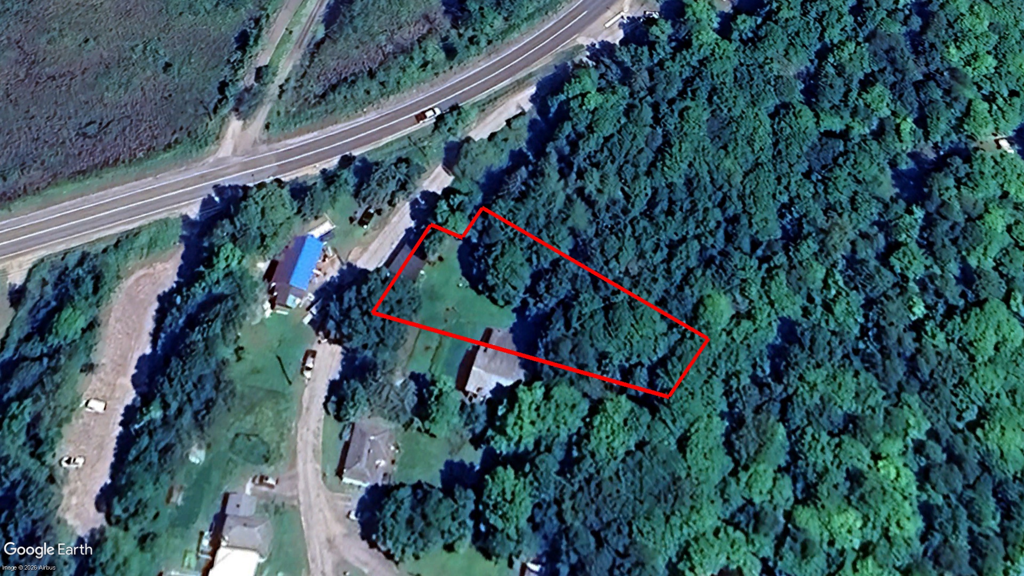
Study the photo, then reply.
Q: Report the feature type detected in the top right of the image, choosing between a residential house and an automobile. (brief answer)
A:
automobile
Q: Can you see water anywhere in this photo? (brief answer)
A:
No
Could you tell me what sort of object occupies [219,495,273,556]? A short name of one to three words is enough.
house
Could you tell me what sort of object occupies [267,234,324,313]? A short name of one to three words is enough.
house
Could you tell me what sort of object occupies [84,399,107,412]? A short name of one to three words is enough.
vehicle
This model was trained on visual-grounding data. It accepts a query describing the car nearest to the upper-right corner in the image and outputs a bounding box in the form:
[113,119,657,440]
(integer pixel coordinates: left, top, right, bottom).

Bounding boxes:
[997,135,1014,155]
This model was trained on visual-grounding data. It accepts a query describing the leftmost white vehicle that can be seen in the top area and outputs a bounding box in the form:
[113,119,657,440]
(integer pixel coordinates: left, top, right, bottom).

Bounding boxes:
[415,107,442,125]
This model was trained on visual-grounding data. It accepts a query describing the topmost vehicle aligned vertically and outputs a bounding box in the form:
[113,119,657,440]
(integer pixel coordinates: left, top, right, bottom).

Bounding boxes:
[303,351,316,379]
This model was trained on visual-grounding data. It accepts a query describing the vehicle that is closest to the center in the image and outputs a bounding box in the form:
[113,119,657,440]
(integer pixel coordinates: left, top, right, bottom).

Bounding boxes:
[358,206,376,227]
